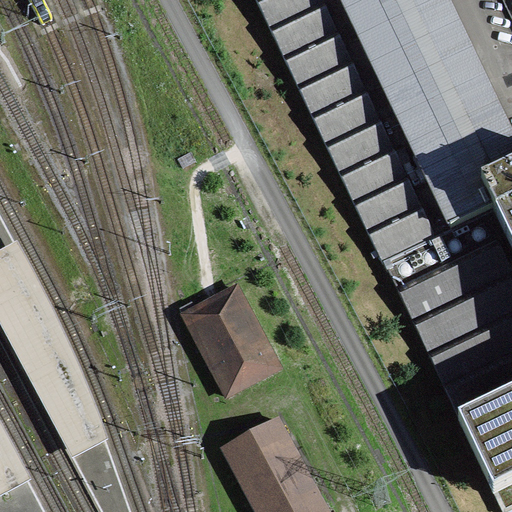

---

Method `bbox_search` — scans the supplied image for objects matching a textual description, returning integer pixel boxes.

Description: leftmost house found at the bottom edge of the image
[220,416,332,512]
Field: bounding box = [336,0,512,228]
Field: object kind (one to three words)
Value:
building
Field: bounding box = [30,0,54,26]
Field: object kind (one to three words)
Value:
train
